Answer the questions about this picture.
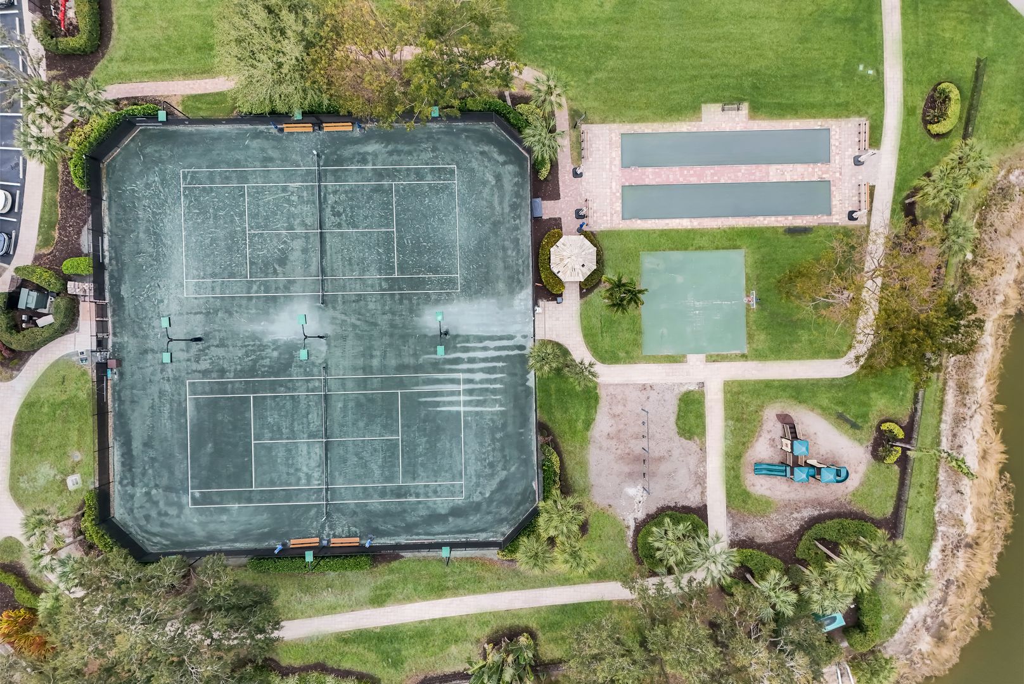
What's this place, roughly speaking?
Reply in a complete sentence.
This looks like a sports ground.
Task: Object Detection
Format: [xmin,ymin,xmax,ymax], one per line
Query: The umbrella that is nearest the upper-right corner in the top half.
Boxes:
[854,151,875,165]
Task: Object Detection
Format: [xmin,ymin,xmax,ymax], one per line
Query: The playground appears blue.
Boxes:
[754,414,851,486]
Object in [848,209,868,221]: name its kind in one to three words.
umbrella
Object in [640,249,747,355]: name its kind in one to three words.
basketball court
